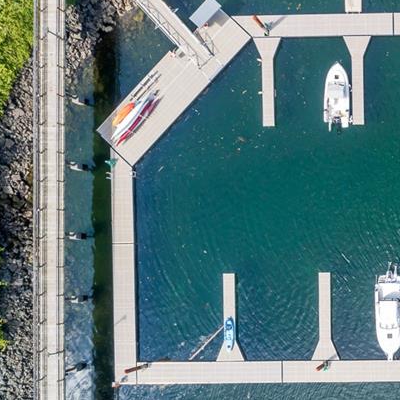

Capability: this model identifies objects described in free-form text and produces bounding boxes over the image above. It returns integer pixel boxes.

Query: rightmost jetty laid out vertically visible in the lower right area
[311,272,340,360]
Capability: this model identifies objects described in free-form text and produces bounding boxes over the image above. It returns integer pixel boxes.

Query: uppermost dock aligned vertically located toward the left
[111,152,137,244]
